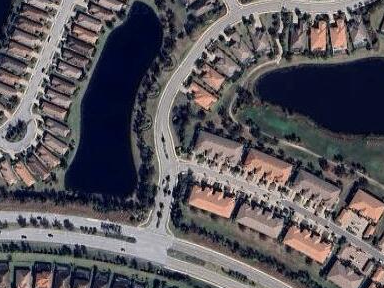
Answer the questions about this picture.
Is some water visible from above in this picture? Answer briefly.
Yes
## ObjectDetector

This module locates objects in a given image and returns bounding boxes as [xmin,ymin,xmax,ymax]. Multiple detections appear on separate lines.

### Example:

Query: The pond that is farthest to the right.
[64,1,163,197]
